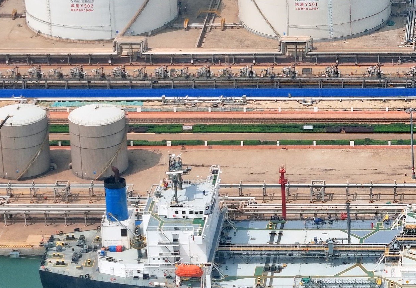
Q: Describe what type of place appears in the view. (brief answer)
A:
industrial area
